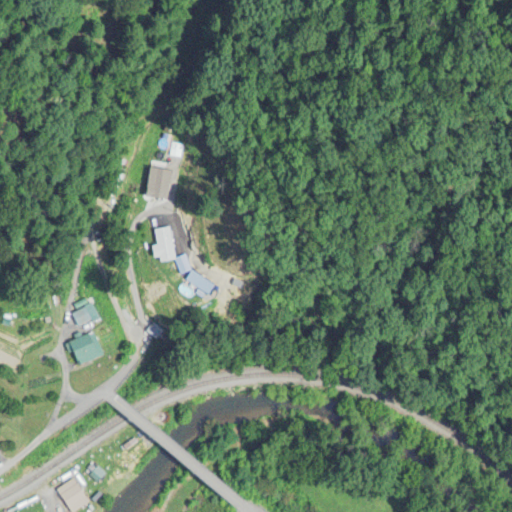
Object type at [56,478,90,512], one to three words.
building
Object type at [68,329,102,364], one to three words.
house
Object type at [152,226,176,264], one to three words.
house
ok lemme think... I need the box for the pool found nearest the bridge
[178,284,195,297]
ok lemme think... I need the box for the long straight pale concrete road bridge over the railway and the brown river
[102,390,249,512]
